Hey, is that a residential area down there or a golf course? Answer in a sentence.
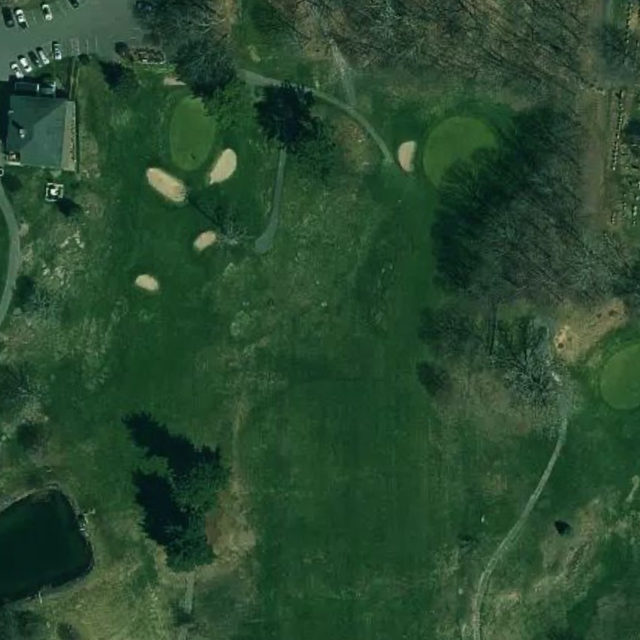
It's a golf course.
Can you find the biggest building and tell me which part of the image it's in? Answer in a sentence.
The biggest building appears toward the top left of the photo.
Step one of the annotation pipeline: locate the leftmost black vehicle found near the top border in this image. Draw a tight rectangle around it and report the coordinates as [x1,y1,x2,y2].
[1,8,14,27]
